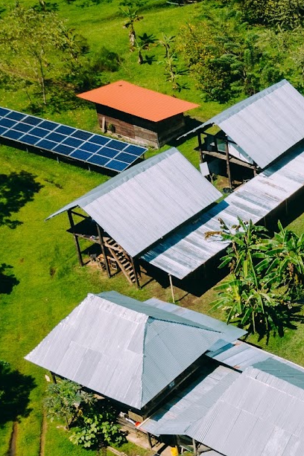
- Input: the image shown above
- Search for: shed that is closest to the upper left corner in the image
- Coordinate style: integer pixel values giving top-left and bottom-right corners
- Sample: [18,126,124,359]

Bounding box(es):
[77,79,197,149]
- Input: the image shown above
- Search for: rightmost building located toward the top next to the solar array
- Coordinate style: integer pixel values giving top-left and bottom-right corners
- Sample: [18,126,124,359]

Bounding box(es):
[171,78,304,188]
